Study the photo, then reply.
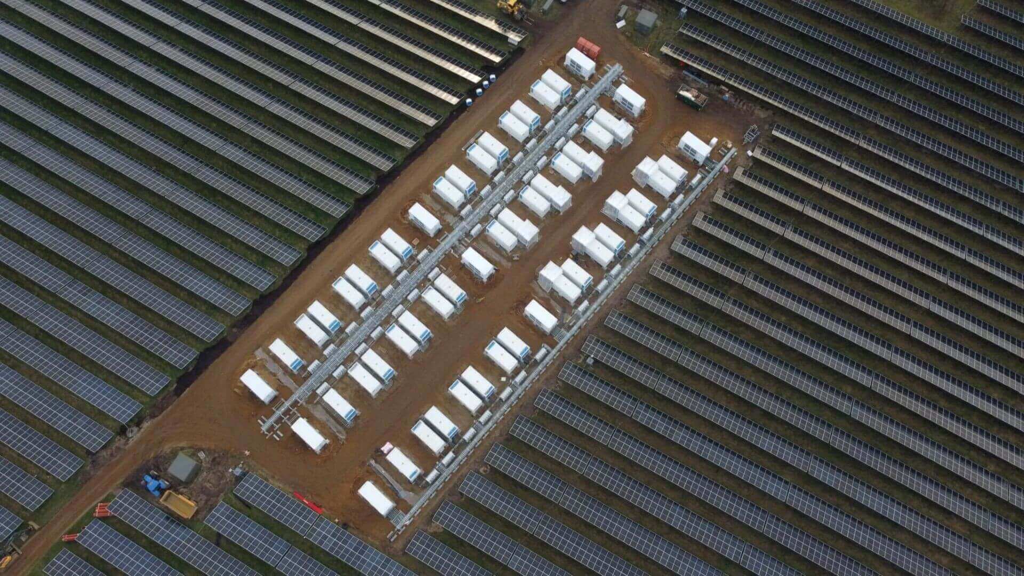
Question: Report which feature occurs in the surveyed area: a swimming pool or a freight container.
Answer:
freight container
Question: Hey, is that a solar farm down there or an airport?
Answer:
solar farm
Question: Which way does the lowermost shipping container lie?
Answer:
on a diagonal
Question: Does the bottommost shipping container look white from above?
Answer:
Yes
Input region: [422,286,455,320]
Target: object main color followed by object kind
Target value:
white shipping container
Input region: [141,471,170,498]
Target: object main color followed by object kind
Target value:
blue work vehicle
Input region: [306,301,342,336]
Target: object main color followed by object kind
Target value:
white shipping container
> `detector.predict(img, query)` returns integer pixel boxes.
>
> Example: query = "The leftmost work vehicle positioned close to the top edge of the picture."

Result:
[495,0,529,22]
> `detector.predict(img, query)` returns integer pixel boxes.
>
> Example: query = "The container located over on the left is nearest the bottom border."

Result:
[358,481,397,518]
